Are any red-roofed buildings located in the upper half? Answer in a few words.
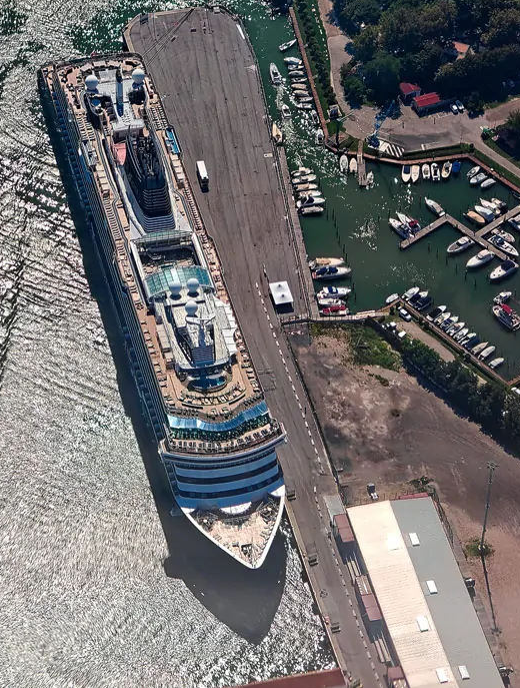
Yes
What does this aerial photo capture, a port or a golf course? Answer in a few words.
port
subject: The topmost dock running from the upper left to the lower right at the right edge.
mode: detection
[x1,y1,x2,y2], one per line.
[445,215,510,262]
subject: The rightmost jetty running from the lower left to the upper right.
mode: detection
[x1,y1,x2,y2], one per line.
[474,203,520,237]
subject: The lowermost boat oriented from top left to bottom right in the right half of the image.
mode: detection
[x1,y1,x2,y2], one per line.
[494,304,520,333]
